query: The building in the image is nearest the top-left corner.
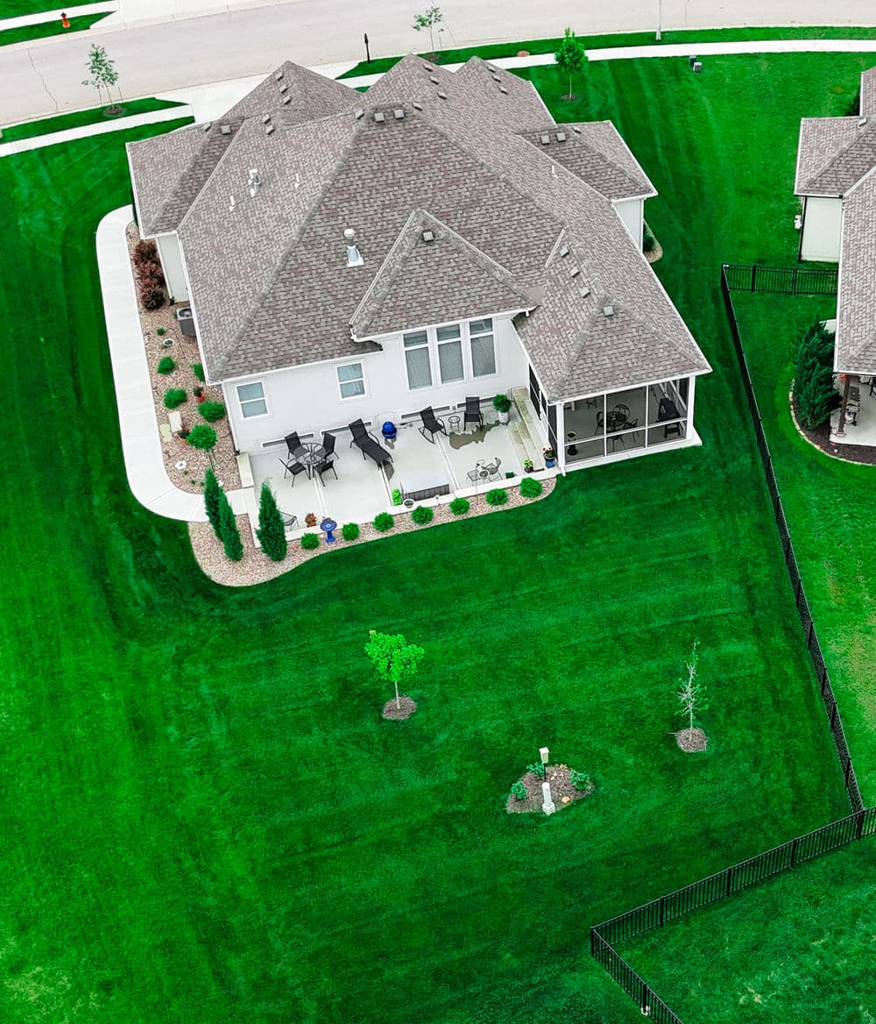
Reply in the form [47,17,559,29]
[123,54,717,478]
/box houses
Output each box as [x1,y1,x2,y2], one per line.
[123,54,717,478]
[792,71,876,447]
